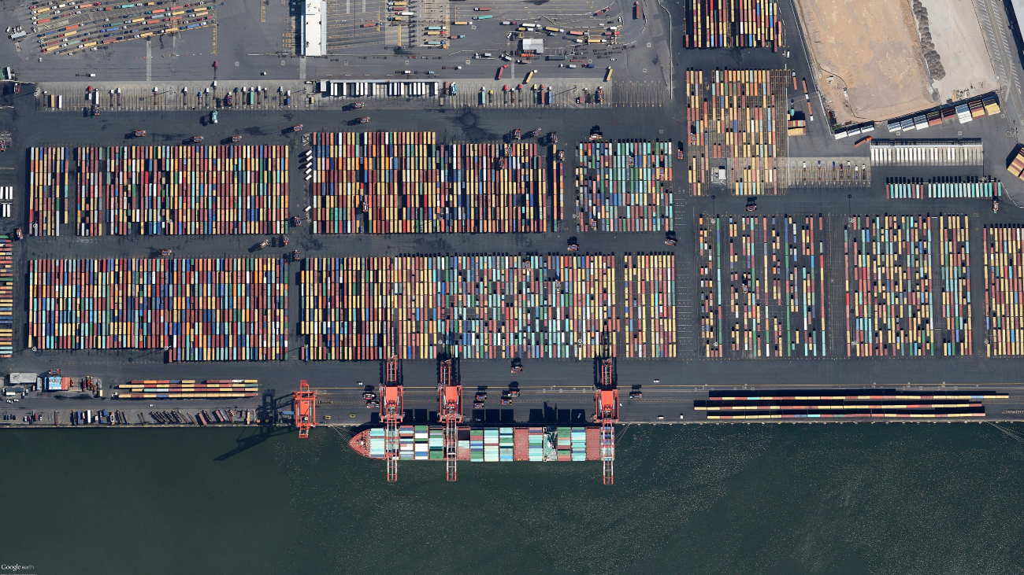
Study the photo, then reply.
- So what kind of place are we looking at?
port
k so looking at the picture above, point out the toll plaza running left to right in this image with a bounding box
[578,29,623,44]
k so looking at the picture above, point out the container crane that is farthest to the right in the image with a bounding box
[594,356,620,483]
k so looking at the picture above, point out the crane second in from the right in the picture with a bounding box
[438,356,464,483]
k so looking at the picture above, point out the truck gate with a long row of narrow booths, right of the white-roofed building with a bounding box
[407,0,432,46]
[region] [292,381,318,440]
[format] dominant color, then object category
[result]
red container crane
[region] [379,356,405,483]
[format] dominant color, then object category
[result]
red container crane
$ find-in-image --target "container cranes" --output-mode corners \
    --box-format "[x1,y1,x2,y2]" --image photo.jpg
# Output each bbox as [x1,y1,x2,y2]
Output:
[292,381,318,440]
[594,356,620,483]
[379,356,405,483]
[438,356,464,483]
